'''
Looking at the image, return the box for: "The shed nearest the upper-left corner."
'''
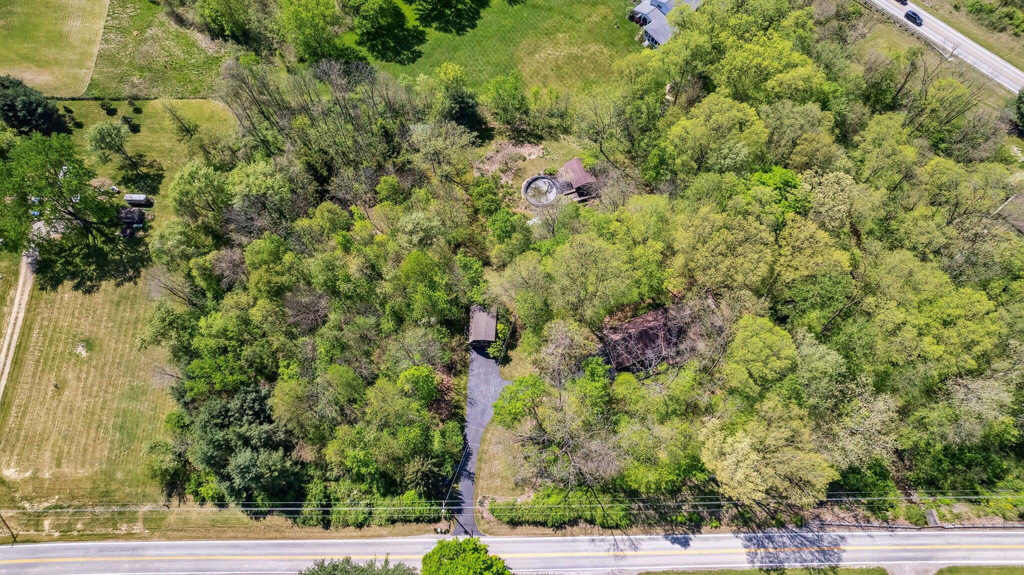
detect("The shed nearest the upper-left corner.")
[113,203,145,221]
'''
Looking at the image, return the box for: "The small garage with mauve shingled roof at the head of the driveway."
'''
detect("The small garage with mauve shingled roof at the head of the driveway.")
[470,302,496,345]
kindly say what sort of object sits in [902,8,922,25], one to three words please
car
